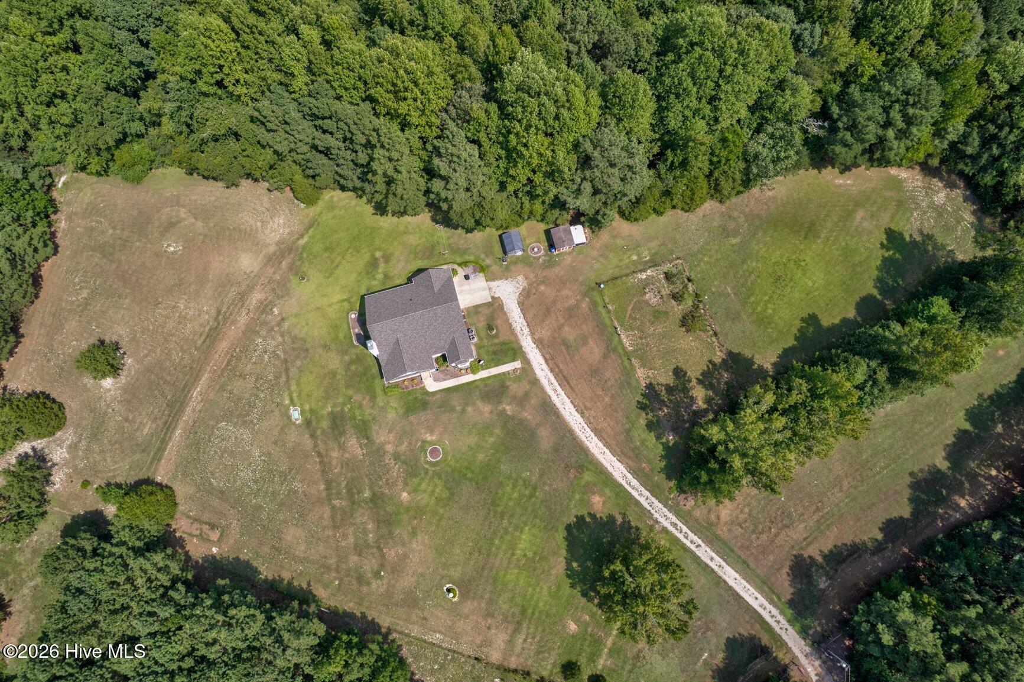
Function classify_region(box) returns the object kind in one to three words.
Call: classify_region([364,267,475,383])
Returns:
house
